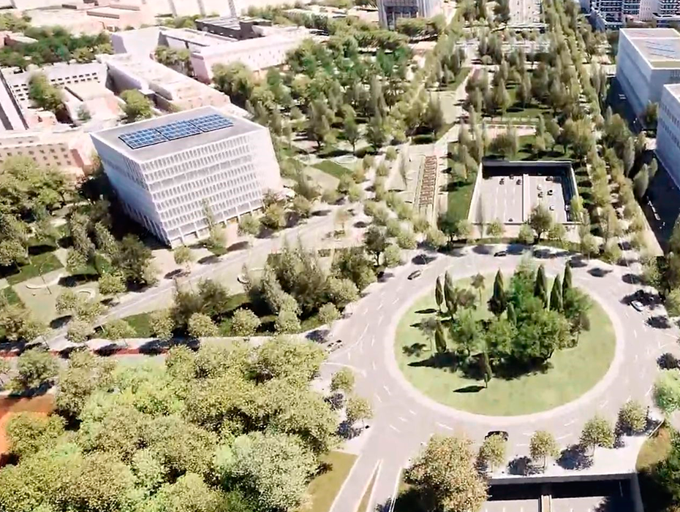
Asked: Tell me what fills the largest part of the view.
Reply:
trees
